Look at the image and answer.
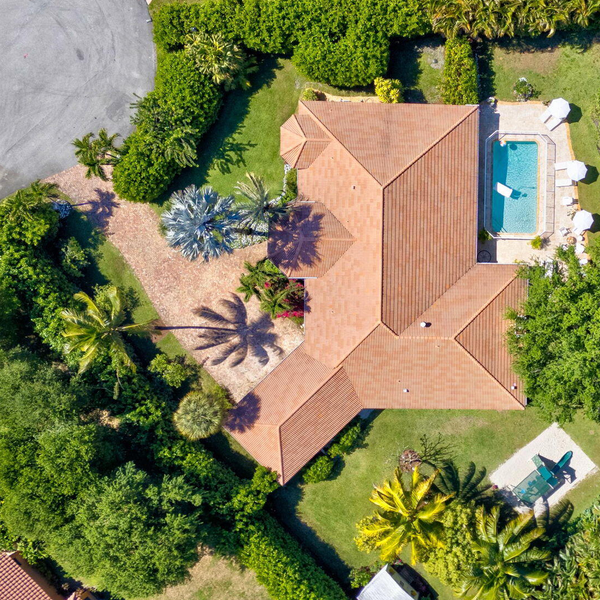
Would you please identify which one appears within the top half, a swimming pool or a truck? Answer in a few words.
swimming pool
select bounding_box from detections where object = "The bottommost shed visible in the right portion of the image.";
[361,561,422,600]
